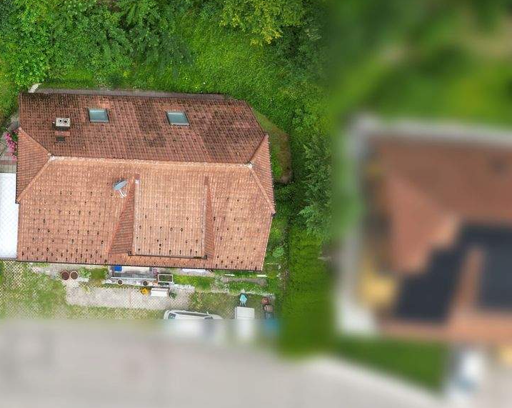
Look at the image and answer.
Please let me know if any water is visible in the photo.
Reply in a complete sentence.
No, there's no water in this view.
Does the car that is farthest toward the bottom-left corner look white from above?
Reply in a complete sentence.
Yes, the car that is farthest toward the bottom-left corner is indeed white.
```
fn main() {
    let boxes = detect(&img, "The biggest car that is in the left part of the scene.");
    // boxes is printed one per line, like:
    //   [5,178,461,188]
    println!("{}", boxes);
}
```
[163,310,226,347]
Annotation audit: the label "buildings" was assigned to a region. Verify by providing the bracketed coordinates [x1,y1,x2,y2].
[13,90,277,272]
[357,133,512,350]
